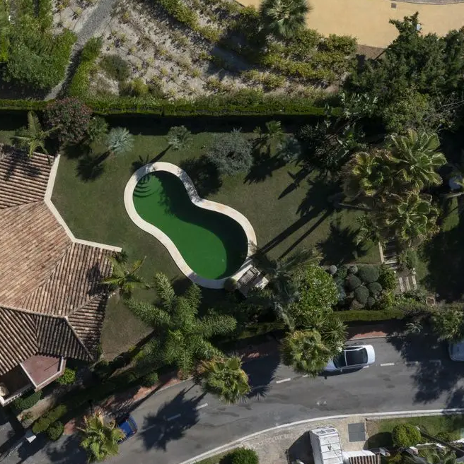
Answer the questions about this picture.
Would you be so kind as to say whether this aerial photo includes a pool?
Yes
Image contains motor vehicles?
Yes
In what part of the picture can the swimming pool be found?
center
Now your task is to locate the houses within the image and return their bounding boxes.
[339,440,379,464]
[0,139,123,408]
